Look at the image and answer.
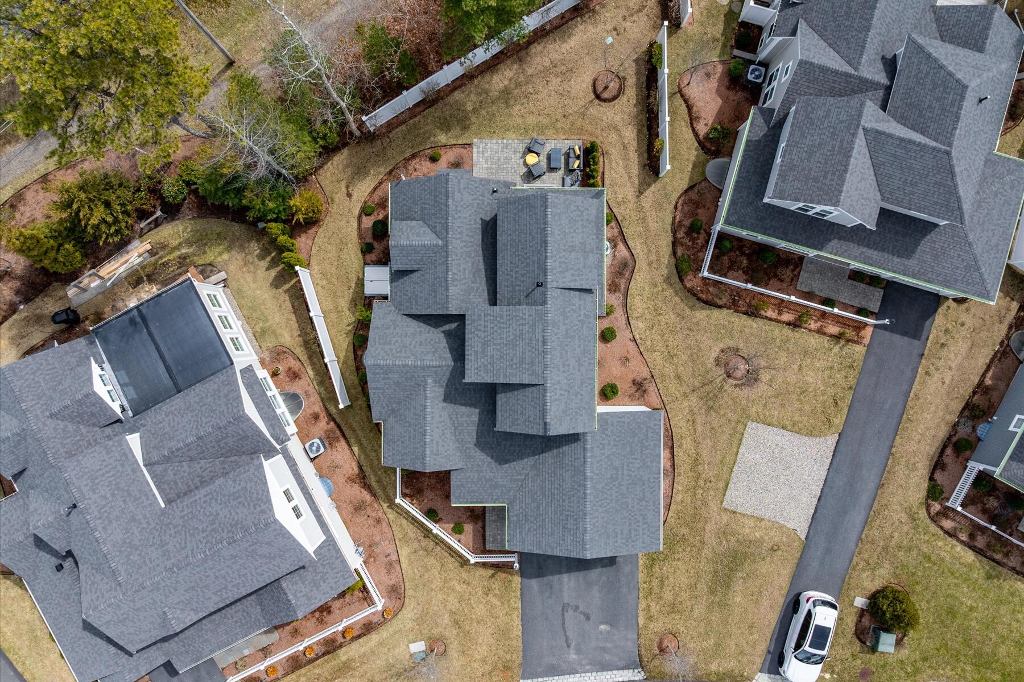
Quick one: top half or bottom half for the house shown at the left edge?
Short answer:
bottom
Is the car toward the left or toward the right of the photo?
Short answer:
right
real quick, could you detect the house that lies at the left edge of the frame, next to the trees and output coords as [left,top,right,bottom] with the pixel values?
[0,274,362,682]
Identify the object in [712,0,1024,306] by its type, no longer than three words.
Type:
house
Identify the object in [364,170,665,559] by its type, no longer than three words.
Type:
house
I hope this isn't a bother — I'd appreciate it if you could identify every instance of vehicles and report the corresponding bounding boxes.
[778,592,842,682]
